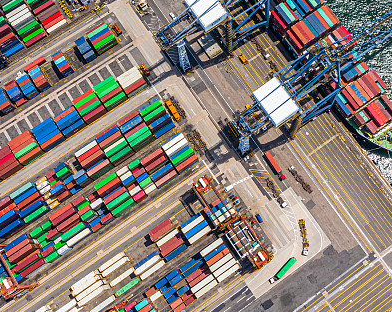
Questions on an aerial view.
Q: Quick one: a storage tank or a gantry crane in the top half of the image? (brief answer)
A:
gantry crane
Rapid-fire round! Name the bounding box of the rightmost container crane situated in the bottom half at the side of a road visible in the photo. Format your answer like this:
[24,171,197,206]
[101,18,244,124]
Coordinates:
[224,205,274,271]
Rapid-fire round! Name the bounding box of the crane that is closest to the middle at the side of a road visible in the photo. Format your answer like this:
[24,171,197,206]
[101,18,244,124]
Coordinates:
[192,167,240,231]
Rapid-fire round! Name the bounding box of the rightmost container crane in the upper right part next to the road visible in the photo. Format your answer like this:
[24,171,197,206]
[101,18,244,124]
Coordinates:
[226,11,392,143]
